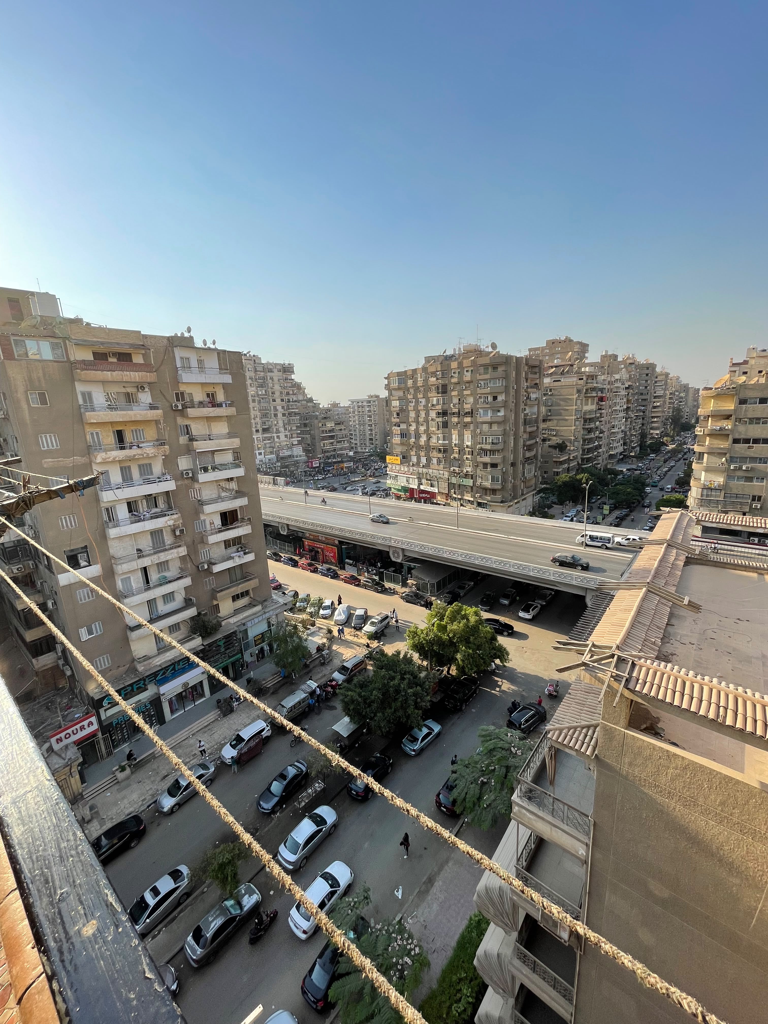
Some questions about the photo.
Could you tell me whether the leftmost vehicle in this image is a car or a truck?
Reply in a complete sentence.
It looks like the leftmost vehicle is a car.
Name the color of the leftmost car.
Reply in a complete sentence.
The color of the leftmost car is black.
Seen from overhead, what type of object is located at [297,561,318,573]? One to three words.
vehicle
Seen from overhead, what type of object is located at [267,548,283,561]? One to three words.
vehicle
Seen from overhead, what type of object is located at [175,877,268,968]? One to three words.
car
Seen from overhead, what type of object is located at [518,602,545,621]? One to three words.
car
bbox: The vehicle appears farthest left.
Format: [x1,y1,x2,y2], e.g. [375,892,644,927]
[88,806,148,865]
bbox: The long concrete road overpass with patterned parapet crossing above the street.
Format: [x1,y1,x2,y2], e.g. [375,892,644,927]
[259,477,763,610]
